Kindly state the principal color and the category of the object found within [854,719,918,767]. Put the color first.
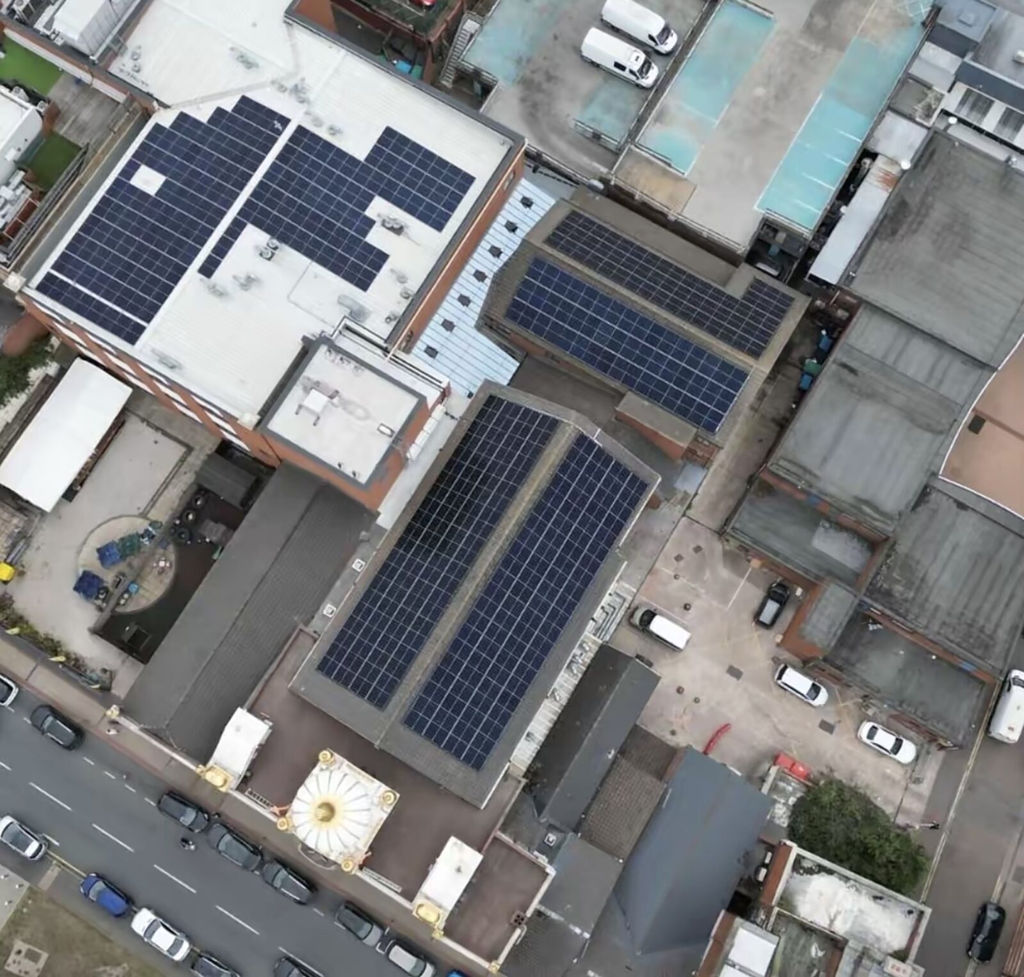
white car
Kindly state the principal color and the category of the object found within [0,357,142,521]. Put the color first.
white tent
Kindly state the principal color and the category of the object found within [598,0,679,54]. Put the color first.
white van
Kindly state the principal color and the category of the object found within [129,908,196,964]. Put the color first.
white car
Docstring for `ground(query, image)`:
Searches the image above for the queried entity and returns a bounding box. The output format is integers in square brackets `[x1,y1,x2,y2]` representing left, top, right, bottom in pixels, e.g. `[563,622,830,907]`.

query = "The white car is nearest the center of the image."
[628,607,694,651]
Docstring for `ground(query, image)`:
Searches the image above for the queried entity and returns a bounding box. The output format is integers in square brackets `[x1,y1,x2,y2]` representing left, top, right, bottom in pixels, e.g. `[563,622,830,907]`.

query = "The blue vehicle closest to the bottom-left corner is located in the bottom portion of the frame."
[77,872,136,922]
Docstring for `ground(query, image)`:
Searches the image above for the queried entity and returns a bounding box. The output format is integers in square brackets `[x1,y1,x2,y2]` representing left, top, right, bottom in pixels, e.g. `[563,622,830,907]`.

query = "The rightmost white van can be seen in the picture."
[990,670,1024,741]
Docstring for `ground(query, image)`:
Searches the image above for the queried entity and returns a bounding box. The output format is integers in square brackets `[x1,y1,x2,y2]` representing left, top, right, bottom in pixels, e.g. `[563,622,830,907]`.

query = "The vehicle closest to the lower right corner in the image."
[963,900,1004,964]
